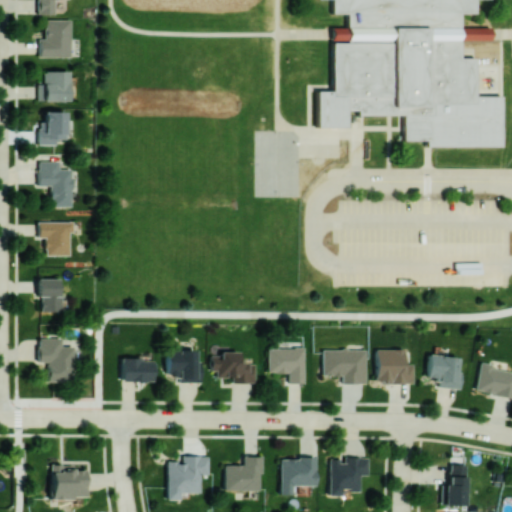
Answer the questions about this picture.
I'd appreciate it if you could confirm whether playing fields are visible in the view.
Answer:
Yes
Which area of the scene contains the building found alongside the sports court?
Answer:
top right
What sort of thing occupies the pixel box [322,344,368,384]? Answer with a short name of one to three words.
house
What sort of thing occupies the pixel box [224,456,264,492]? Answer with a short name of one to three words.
house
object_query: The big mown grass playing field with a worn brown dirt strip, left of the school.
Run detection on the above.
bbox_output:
[106,40,253,305]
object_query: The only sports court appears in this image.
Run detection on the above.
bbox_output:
[254,131,298,198]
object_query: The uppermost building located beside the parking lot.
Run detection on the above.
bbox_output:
[315,0,506,148]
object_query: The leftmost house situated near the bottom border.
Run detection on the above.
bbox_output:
[51,465,93,500]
